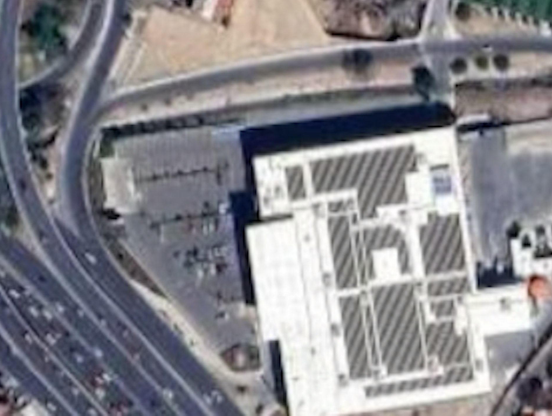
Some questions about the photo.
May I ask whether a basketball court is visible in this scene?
No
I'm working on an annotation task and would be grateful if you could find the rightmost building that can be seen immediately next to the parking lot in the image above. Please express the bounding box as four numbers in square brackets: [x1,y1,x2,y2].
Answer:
[229,124,533,416]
